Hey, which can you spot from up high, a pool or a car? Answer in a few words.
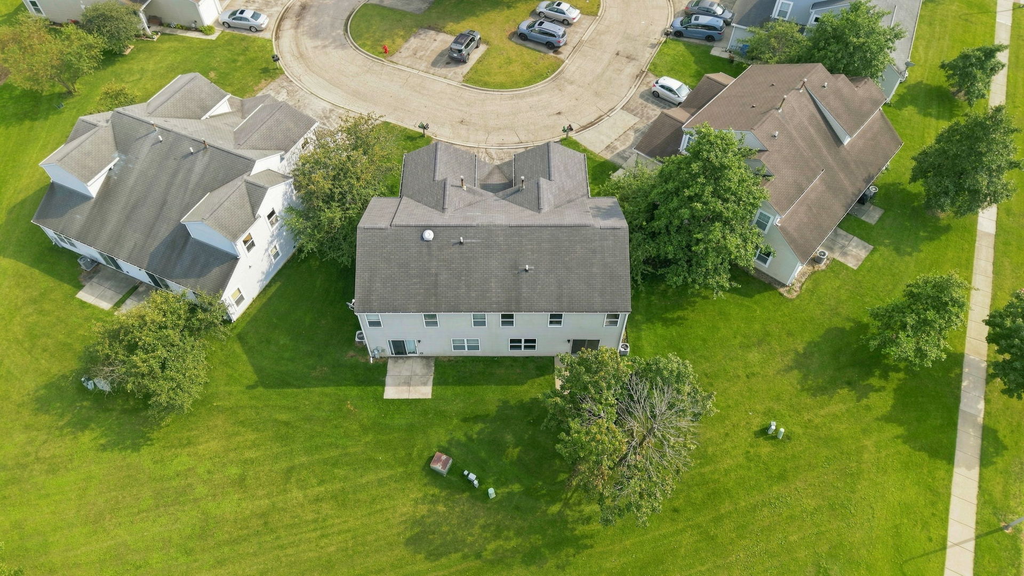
car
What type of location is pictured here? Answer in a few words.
residential area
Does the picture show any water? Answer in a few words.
No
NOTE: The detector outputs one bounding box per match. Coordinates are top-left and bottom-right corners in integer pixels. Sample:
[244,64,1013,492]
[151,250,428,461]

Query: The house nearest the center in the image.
[342,140,633,364]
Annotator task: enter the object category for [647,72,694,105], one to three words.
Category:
car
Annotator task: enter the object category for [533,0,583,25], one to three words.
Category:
car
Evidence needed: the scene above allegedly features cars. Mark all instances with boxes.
[216,6,268,31]
[690,0,736,25]
[515,17,569,50]
[668,12,726,42]
[647,72,694,105]
[446,31,482,65]
[533,0,583,25]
